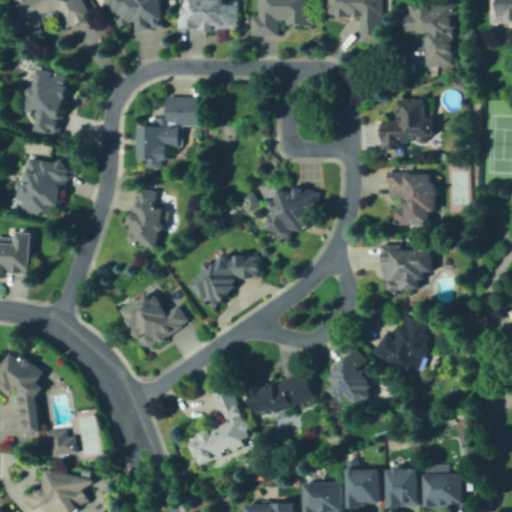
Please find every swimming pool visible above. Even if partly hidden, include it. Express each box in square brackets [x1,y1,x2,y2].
[437,270,456,304]
[438,88,462,116]
[52,392,74,430]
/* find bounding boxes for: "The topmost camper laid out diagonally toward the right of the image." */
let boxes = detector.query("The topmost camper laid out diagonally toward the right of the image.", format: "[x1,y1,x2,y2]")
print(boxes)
[342,33,355,51]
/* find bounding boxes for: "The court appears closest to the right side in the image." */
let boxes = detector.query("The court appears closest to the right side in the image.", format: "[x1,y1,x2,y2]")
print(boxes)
[486,100,512,183]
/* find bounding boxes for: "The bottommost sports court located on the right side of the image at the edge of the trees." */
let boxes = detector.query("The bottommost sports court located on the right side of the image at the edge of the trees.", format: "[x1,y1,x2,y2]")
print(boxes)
[450,165,472,214]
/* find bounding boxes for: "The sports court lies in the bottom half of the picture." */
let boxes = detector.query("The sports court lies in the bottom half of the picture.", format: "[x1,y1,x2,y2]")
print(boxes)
[78,410,102,460]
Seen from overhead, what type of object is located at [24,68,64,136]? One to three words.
house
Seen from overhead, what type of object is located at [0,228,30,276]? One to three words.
house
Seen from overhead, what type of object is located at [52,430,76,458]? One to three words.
building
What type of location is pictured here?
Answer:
residential area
